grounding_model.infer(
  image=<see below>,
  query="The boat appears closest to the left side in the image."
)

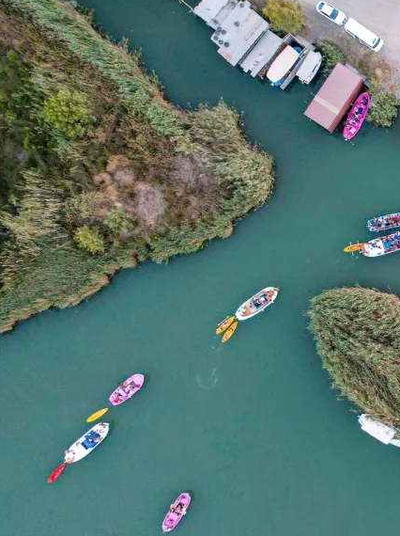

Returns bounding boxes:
[47,464,66,483]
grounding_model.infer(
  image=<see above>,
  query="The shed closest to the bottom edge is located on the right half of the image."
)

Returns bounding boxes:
[305,63,365,135]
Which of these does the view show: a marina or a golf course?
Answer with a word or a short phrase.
marina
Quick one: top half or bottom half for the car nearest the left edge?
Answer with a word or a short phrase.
top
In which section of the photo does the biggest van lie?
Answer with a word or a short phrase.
top right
